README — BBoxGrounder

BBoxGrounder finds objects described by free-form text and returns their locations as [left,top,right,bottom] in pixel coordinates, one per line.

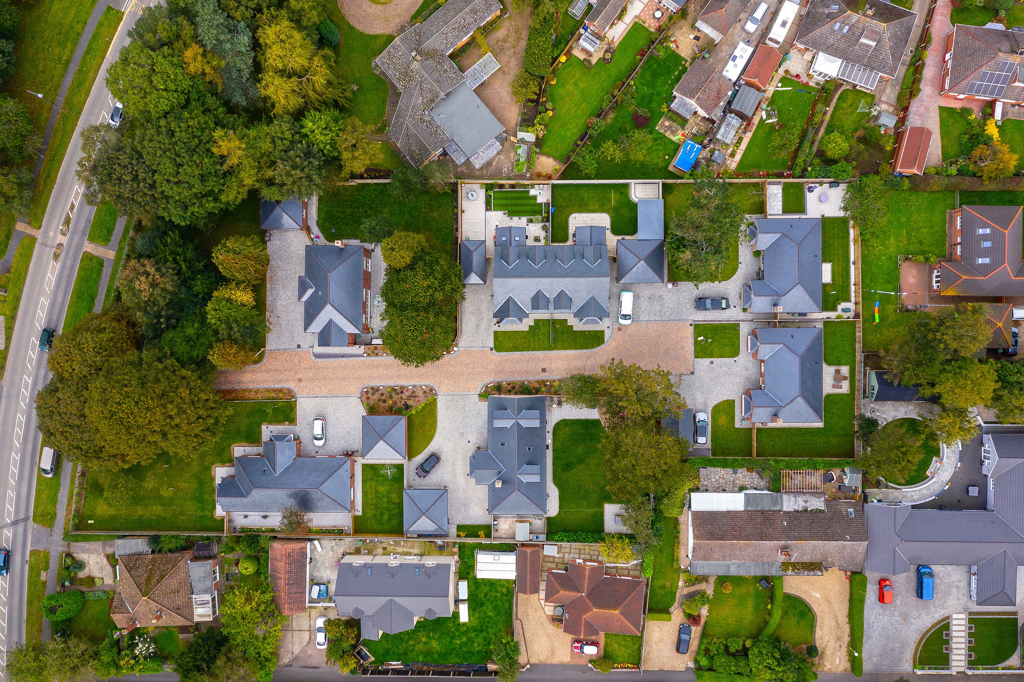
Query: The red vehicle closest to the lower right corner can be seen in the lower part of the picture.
[878,577,894,604]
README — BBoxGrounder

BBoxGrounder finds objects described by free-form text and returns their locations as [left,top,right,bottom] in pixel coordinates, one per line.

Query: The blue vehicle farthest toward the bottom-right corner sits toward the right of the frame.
[915,566,934,601]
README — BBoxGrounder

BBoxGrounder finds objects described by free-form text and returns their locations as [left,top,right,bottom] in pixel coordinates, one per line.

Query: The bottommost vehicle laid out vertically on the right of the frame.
[676,623,693,655]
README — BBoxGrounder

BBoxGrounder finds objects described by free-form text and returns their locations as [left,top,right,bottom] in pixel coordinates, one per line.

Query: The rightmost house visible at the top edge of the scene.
[940,22,1024,105]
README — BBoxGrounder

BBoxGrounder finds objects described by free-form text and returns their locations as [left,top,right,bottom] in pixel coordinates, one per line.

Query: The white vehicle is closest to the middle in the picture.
[617,291,634,325]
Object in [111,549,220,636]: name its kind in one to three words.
house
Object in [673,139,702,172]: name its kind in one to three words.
swimming pool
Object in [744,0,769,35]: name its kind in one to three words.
car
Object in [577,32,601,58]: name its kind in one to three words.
greenhouse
